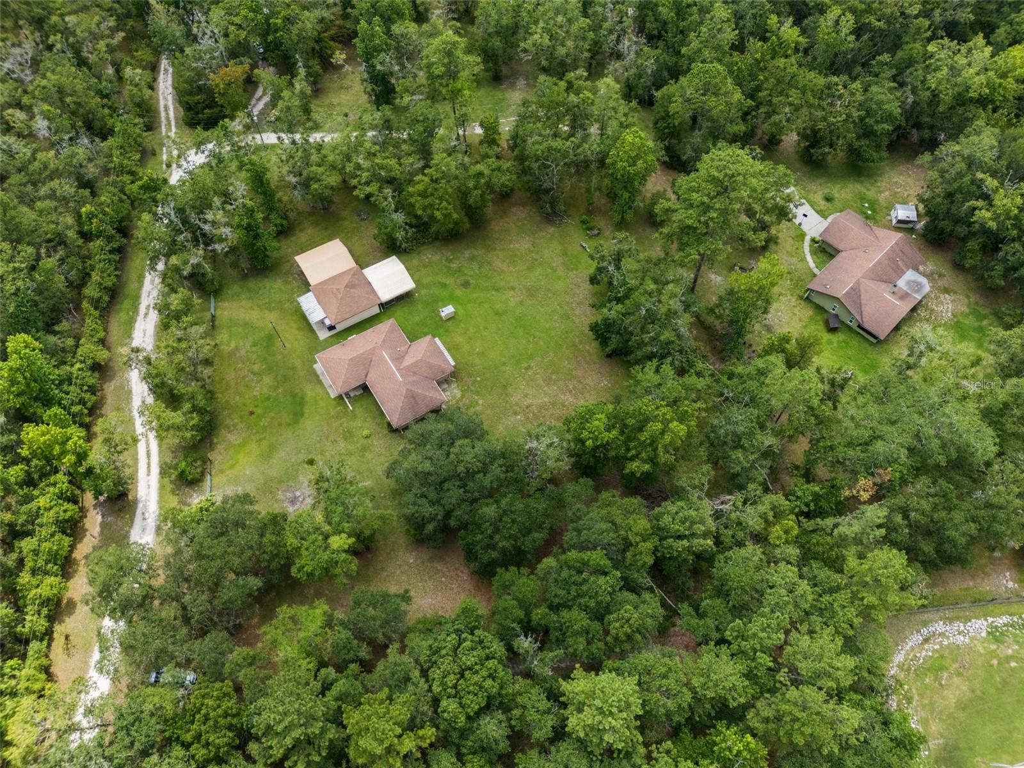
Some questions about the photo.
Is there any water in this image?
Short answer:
No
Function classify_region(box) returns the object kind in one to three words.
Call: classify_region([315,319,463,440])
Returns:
house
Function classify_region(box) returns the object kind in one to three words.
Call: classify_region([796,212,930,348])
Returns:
building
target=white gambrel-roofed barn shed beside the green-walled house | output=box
[882,208,919,232]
